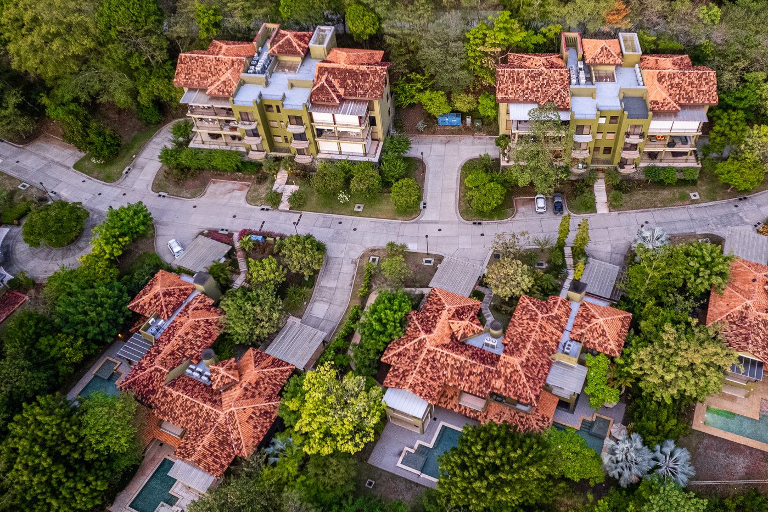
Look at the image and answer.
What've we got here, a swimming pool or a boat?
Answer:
swimming pool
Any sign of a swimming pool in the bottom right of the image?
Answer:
Yes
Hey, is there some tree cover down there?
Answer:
Yes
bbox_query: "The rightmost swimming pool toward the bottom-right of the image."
[693,401,768,452]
